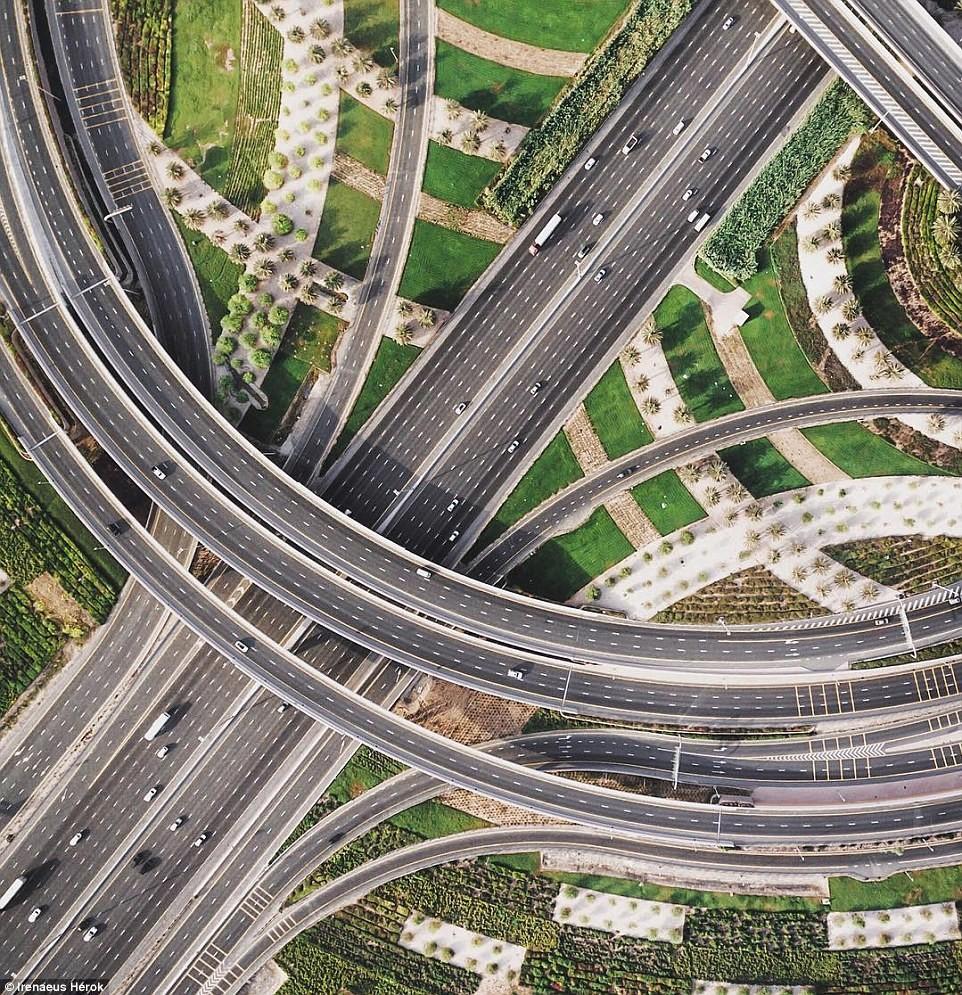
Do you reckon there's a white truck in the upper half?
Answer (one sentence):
Yes, a white truck can be seen in the upper half.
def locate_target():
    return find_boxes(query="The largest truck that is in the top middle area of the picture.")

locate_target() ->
[531,209,565,252]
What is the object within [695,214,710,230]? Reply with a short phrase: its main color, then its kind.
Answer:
white vehicle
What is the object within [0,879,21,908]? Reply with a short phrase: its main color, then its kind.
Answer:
white truck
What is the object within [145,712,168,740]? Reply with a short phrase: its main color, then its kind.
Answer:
white truck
